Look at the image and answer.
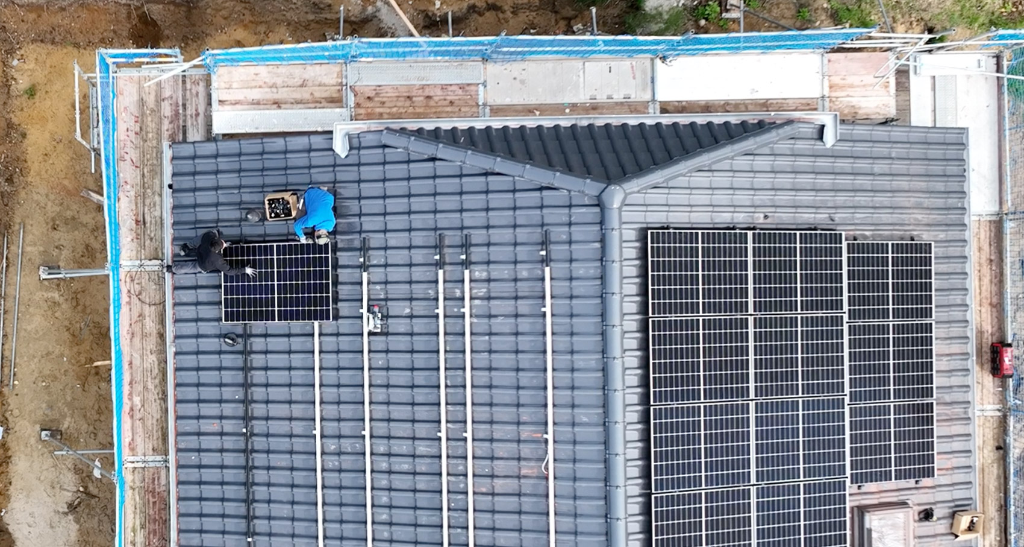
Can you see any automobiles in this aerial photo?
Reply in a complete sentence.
No, there appears to be no automobile in this shot.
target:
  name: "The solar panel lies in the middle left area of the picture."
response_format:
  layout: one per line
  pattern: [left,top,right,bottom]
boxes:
[220,240,333,324]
